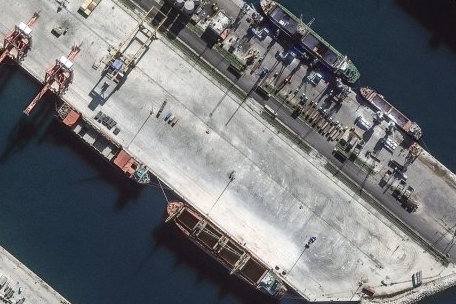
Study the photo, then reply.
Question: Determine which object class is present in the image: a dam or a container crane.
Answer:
container crane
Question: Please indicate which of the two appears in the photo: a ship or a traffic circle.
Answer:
ship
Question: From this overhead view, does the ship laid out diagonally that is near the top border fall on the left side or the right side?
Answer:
right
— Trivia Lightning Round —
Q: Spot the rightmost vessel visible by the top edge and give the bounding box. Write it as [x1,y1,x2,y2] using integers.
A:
[262,2,361,85]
